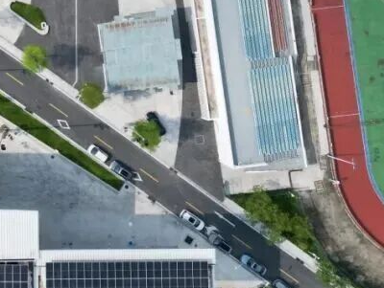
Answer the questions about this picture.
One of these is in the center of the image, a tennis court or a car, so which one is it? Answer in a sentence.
It is a car that can be seen in the center of the image.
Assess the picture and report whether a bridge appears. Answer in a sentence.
No, no bridge is visible in the scene.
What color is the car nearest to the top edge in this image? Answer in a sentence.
In this view, the car nearest to the top edge is black.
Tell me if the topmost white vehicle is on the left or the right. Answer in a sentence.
The topmost white vehicle sits on the left side.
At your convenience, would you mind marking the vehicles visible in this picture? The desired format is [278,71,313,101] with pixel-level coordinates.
[241,255,269,278]
[85,142,109,163]
[208,232,238,258]
[178,208,206,231]
[110,161,138,184]
[146,108,170,134]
